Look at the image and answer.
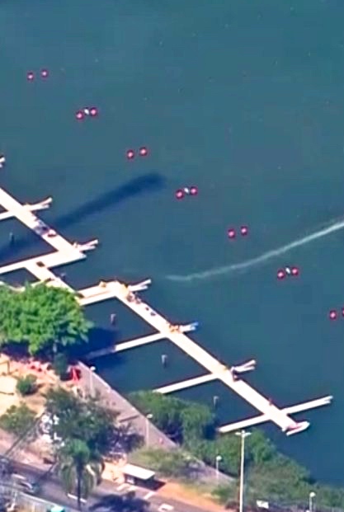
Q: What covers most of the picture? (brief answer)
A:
water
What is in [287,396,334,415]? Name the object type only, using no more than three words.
pier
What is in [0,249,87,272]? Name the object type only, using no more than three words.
pier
